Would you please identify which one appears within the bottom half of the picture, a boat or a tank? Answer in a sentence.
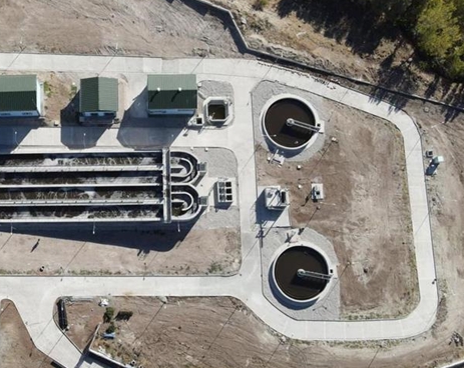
What appears within the bottom half of the picture is a tank.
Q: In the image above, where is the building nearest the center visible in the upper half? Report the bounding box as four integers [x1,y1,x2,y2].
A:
[148,74,198,114]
